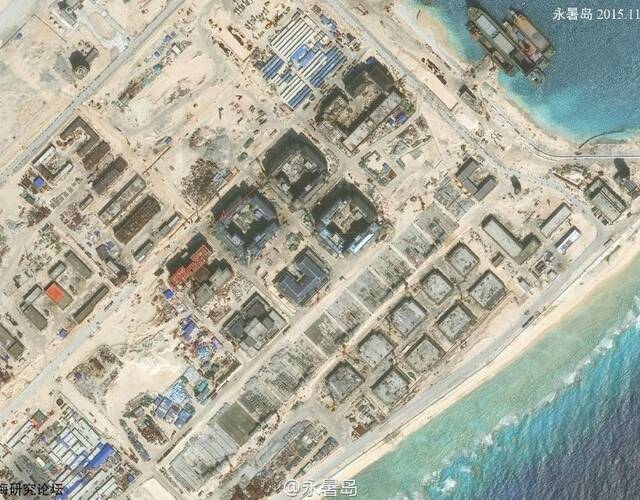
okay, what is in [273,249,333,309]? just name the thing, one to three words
building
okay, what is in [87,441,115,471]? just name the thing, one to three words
building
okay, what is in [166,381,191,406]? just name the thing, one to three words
shed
